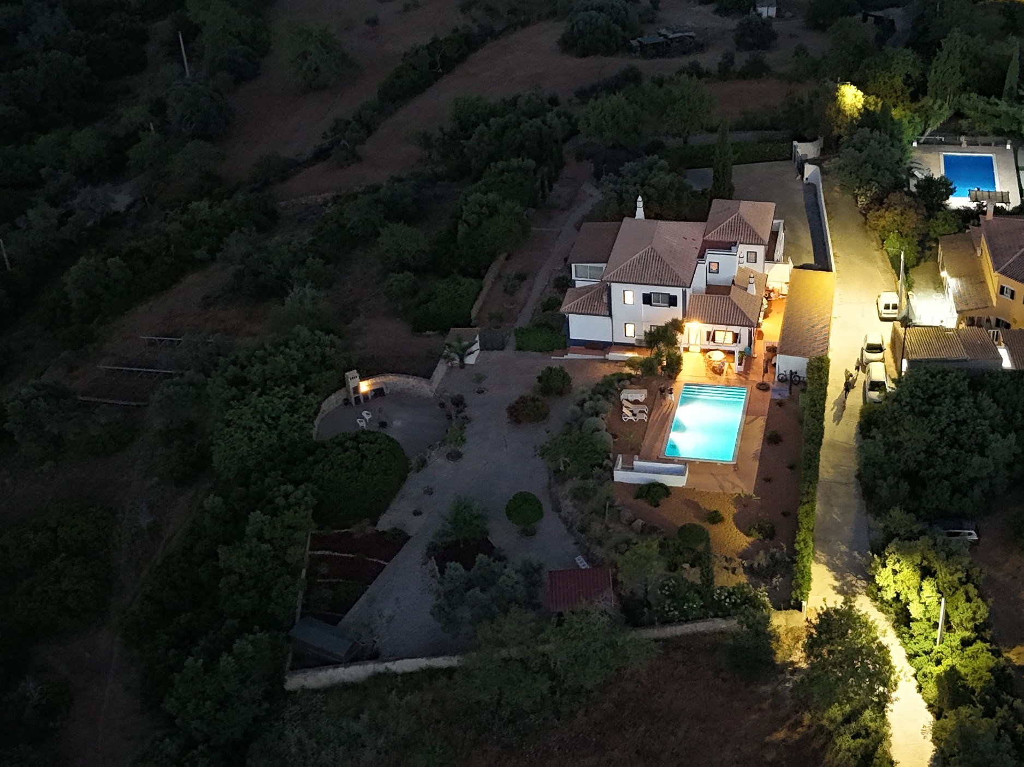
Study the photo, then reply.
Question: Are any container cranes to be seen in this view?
No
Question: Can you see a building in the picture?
Yes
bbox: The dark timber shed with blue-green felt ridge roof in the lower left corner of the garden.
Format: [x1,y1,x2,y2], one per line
[290,618,366,669]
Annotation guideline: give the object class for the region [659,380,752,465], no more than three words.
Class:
swimming pool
